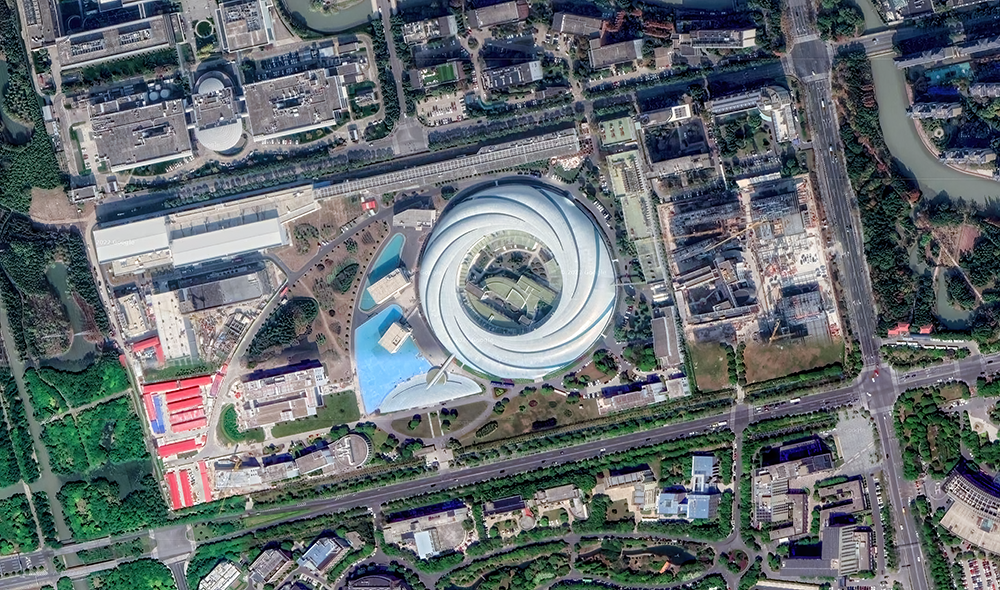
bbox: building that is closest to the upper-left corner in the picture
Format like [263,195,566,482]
[24,0,56,54]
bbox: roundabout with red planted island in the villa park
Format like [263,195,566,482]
[719,541,758,579]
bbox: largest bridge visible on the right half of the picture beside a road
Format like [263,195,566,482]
[861,25,898,51]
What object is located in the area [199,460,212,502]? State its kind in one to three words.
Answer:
house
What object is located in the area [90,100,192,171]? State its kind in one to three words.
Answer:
building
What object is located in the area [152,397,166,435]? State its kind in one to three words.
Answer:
shed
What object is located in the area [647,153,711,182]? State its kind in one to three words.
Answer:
building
